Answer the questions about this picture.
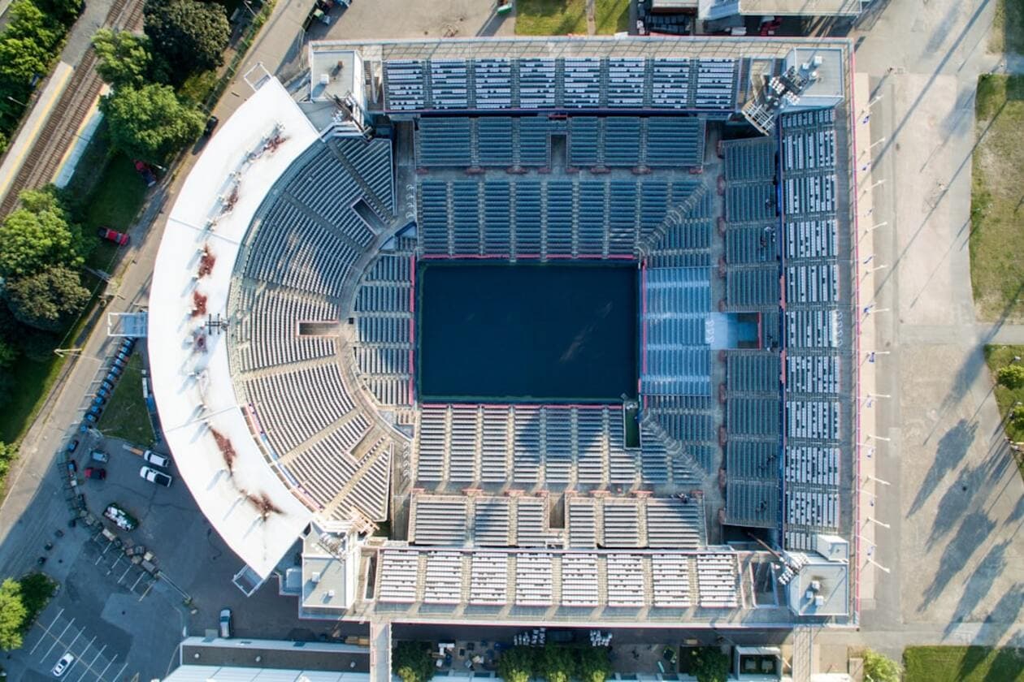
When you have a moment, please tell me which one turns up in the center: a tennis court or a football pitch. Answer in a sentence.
It is a tennis court that can be seen in the center.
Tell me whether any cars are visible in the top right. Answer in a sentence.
No, there is no car in the top right.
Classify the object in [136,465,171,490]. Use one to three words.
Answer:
truck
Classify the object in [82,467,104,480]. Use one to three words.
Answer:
vehicle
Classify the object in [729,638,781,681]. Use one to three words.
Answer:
building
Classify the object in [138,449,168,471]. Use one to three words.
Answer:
car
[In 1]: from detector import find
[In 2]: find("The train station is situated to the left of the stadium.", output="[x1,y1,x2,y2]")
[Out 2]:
[0,62,116,209]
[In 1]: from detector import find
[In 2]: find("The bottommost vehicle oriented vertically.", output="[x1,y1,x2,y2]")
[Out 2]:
[217,609,231,640]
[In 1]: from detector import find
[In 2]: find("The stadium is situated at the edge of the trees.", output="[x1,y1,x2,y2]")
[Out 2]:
[107,35,862,634]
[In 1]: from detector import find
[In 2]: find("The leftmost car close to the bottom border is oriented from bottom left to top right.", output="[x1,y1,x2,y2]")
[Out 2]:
[49,653,73,681]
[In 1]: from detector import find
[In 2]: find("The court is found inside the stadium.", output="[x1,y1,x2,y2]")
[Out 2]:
[416,259,640,405]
